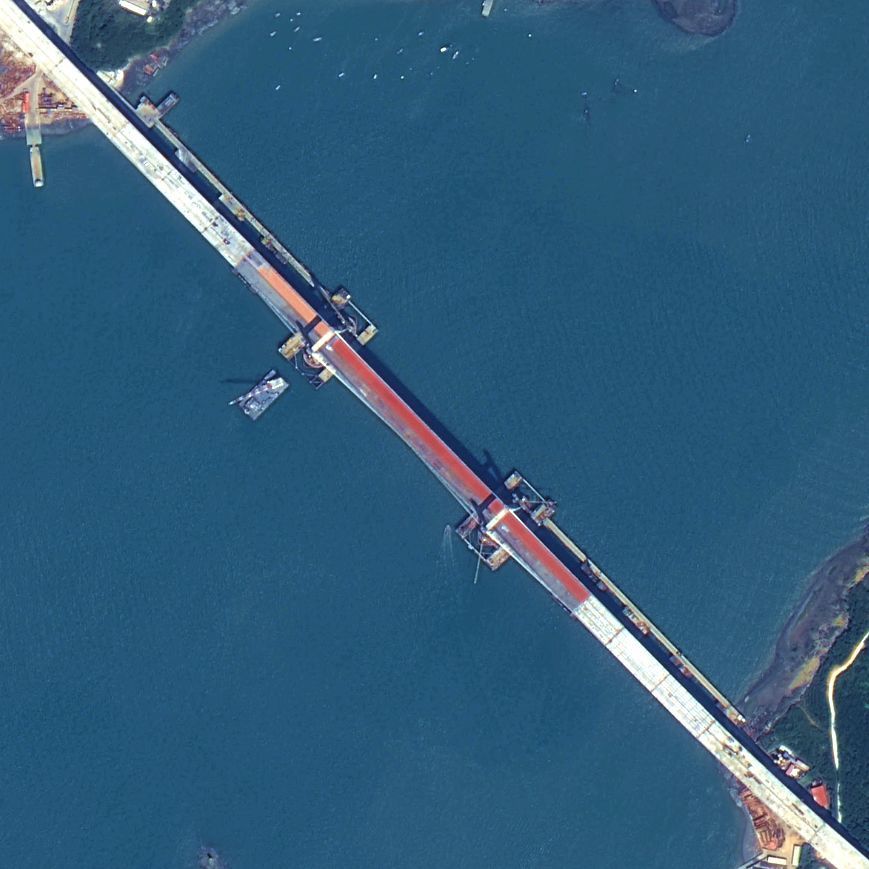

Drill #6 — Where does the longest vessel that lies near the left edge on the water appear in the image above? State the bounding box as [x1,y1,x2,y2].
[31,148,43,187]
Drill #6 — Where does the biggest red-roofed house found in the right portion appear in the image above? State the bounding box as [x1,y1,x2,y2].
[810,785,830,810]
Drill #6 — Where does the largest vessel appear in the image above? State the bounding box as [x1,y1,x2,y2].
[228,367,289,419]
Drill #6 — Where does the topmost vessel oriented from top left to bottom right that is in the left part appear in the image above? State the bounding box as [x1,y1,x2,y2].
[174,149,197,173]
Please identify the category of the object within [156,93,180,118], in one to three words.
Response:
ship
